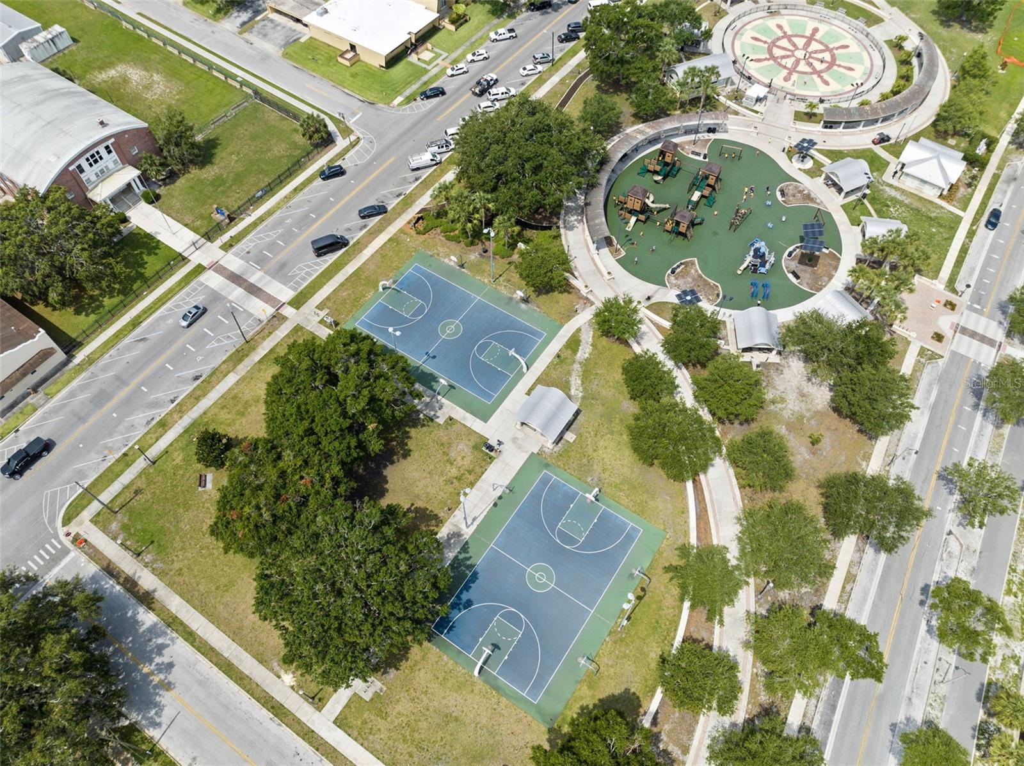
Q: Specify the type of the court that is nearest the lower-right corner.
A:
basketball court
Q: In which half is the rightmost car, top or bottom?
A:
top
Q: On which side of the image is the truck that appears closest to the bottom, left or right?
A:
left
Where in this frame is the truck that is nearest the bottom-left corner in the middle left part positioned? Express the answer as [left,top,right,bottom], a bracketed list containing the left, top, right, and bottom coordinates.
[3,438,50,477]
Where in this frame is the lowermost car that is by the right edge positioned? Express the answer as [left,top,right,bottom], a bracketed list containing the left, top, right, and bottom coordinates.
[982,208,1002,230]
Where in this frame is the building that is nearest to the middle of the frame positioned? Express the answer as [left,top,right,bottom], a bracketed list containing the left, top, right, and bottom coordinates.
[513,385,579,452]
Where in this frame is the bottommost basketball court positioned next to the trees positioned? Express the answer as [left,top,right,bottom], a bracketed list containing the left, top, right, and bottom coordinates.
[406,453,667,728]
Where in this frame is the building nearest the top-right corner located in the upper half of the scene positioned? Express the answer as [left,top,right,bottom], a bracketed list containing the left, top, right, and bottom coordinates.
[890,140,967,205]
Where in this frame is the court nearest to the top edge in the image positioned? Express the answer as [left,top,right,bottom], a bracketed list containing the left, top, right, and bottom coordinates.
[341,249,564,423]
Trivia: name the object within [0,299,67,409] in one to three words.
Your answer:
building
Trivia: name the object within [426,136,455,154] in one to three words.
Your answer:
vehicle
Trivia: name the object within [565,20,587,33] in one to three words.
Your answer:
vehicle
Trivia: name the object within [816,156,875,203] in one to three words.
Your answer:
building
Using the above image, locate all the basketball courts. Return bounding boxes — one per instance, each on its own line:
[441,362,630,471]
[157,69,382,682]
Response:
[341,249,564,423]
[406,453,667,728]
